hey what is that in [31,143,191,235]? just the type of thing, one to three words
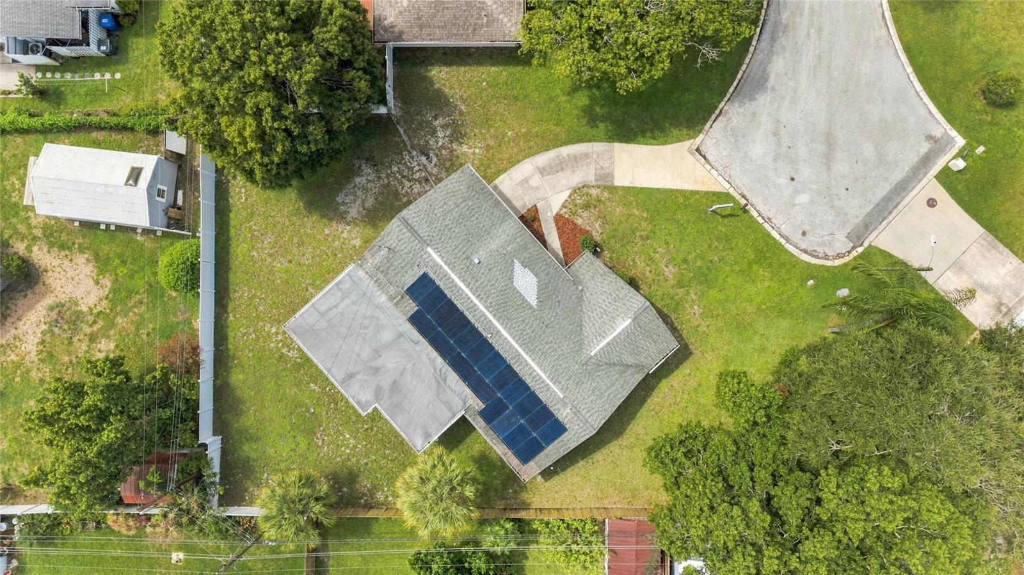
shed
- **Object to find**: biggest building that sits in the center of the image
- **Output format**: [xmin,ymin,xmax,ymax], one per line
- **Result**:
[282,162,680,485]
